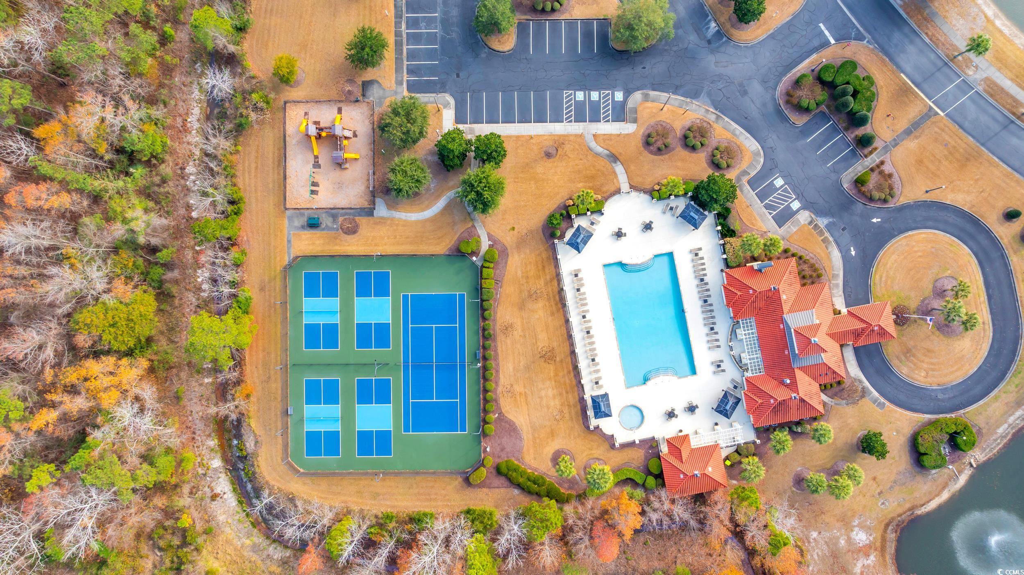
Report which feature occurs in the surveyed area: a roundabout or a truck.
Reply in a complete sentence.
I can see a roundabout in this picture.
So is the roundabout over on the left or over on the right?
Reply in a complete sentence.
It is on the right.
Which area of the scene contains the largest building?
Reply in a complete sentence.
The largest building is located in the right region of the scene.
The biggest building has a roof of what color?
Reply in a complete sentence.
The roof over the biggest building appears red.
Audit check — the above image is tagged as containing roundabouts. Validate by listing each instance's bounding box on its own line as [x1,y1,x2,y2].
[841,199,1022,416]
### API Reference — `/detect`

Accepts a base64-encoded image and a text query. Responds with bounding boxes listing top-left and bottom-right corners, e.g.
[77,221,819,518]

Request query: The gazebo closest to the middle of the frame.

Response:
[565,224,593,254]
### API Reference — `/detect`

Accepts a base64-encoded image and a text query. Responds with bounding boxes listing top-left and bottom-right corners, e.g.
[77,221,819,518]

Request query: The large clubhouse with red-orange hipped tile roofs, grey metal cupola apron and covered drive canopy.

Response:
[718,257,897,428]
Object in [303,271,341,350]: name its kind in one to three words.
sports court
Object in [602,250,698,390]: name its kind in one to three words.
swimming pool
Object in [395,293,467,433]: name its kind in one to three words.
tennis court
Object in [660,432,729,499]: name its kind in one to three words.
building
